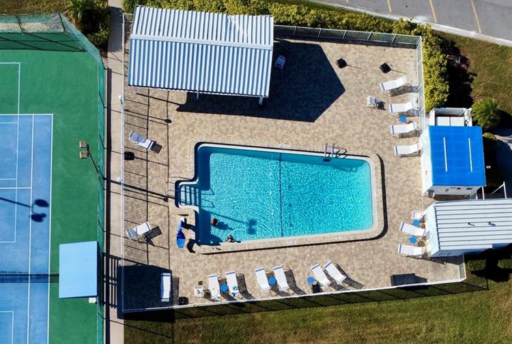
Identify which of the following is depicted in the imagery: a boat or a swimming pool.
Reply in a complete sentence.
The image shows a swimming pool.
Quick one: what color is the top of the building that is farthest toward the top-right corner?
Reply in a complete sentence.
The roof of the building that is farthest toward the top-right corner is blue.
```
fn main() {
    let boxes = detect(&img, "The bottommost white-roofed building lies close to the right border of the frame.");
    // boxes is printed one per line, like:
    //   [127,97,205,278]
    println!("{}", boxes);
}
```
[426,198,512,257]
